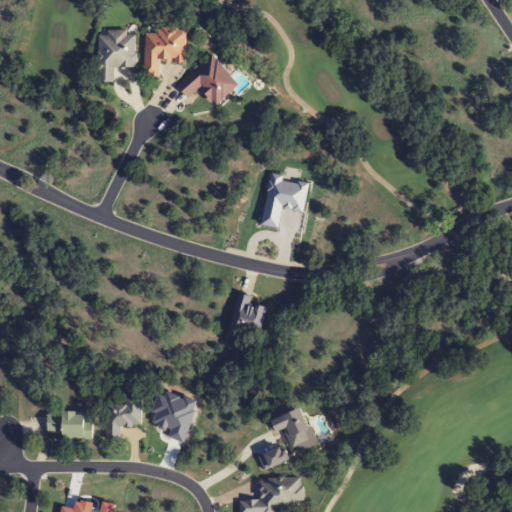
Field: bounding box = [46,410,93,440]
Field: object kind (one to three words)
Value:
house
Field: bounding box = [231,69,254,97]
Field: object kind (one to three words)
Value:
swimming pool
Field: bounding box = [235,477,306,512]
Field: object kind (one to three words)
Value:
house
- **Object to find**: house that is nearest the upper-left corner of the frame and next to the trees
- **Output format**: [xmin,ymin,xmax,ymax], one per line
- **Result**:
[98,28,138,82]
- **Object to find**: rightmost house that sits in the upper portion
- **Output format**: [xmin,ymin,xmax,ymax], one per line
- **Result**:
[260,170,312,226]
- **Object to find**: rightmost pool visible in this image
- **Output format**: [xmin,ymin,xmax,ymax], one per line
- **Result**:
[304,412,334,437]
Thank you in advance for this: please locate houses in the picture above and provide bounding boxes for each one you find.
[110,398,142,438]
[149,392,198,444]
[235,477,306,512]
[270,407,318,452]
[260,170,312,226]
[144,25,188,78]
[98,28,138,82]
[60,500,116,512]
[46,410,93,440]
[258,448,289,472]
[176,53,238,104]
